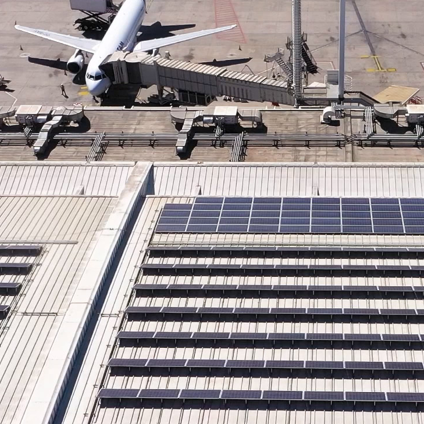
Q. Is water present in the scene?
No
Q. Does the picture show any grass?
No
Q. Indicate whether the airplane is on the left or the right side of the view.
left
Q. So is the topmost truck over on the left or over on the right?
left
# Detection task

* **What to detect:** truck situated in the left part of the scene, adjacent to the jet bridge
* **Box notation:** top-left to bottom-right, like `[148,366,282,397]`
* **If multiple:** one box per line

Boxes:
[68,0,123,35]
